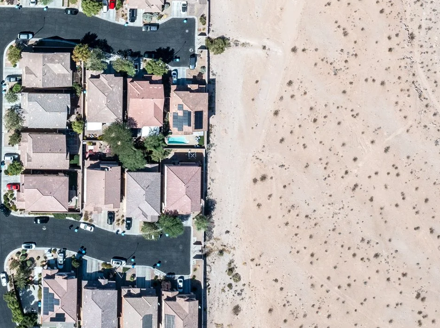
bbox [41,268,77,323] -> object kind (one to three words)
house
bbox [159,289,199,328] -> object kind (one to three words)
house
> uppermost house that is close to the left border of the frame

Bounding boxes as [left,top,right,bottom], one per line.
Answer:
[18,52,72,89]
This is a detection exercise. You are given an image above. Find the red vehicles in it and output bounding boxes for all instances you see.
[6,183,20,190]
[109,0,115,10]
